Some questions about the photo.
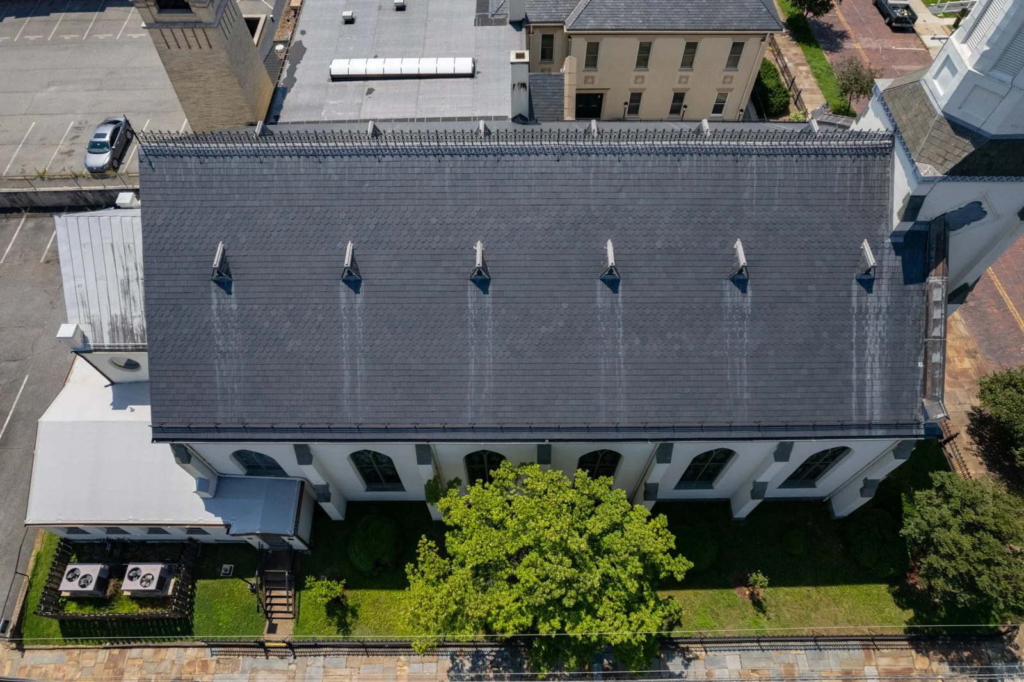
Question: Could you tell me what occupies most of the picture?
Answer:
buildings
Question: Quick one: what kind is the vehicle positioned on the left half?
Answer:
automobile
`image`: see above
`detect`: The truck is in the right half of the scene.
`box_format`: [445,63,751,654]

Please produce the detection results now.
[869,0,919,31]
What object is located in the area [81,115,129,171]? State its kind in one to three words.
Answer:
car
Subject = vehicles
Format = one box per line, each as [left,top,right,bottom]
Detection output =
[869,0,919,31]
[81,115,129,171]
